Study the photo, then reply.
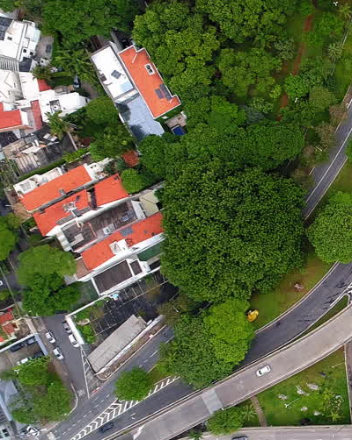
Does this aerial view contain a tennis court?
No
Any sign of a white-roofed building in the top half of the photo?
Yes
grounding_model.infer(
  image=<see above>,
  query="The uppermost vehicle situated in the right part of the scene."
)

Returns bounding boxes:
[246,308,261,321]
